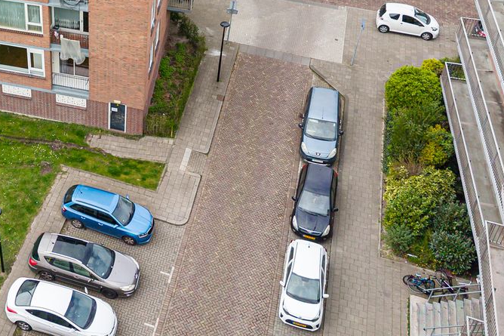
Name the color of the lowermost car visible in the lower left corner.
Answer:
white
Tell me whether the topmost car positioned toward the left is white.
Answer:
No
